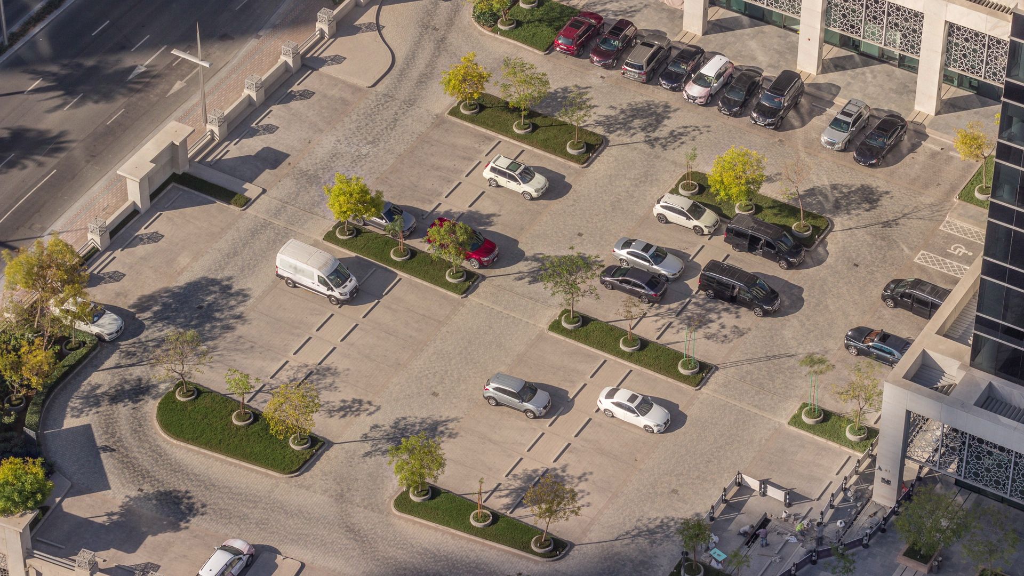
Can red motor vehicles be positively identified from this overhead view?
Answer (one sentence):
Yes, I can see a red motor vehicle in this picture.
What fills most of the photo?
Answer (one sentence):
The largest share of the image is taken up by paved ground.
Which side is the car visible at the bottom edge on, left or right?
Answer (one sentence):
The car visible at the bottom edge appears in the left half of the scene.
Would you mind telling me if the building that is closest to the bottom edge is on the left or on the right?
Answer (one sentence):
It is on the right.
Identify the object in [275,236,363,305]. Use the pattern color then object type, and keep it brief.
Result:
white van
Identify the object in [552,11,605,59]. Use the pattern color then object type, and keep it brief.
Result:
red car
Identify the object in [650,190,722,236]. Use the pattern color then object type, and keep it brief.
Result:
white car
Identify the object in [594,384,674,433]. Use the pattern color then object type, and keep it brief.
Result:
white car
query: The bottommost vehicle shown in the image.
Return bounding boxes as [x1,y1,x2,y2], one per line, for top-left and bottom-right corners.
[193,538,255,576]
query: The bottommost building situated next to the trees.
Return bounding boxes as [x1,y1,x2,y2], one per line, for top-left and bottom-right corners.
[873,244,1024,510]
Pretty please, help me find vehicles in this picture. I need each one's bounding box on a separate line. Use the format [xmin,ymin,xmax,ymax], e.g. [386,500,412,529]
[819,97,873,152]
[589,17,640,69]
[877,275,951,317]
[839,325,913,367]
[724,210,810,270]
[657,42,707,91]
[598,262,674,306]
[650,190,722,236]
[594,384,674,433]
[611,234,688,281]
[715,67,766,117]
[682,55,735,106]
[481,371,555,419]
[620,34,673,86]
[275,236,363,305]
[552,11,605,59]
[697,258,785,317]
[749,71,806,131]
[193,538,255,576]
[481,151,551,200]
[424,213,502,269]
[852,114,910,168]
